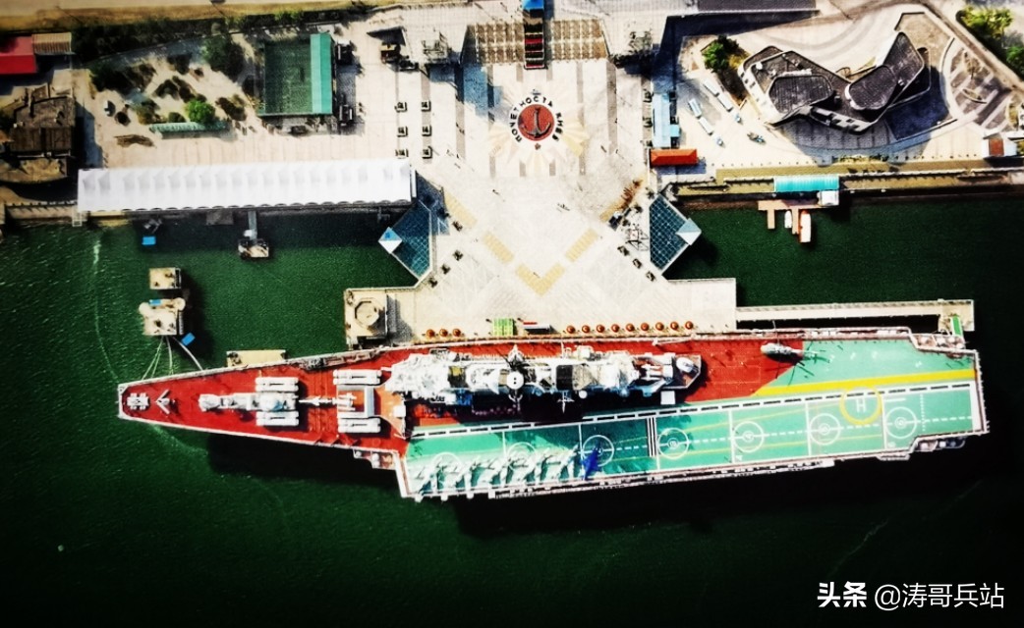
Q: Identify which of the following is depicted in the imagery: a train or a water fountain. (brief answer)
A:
train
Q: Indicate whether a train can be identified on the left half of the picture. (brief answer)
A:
No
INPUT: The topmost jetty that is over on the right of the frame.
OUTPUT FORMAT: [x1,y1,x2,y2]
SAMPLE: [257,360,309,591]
[757,200,815,234]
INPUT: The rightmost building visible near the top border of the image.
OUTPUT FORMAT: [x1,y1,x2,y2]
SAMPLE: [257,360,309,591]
[735,30,932,135]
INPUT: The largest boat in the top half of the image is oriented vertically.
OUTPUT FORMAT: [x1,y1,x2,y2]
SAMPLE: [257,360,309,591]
[800,210,813,244]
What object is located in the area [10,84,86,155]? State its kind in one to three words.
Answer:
house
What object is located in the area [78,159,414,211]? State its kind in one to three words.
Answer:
building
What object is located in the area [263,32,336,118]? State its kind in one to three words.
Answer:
building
